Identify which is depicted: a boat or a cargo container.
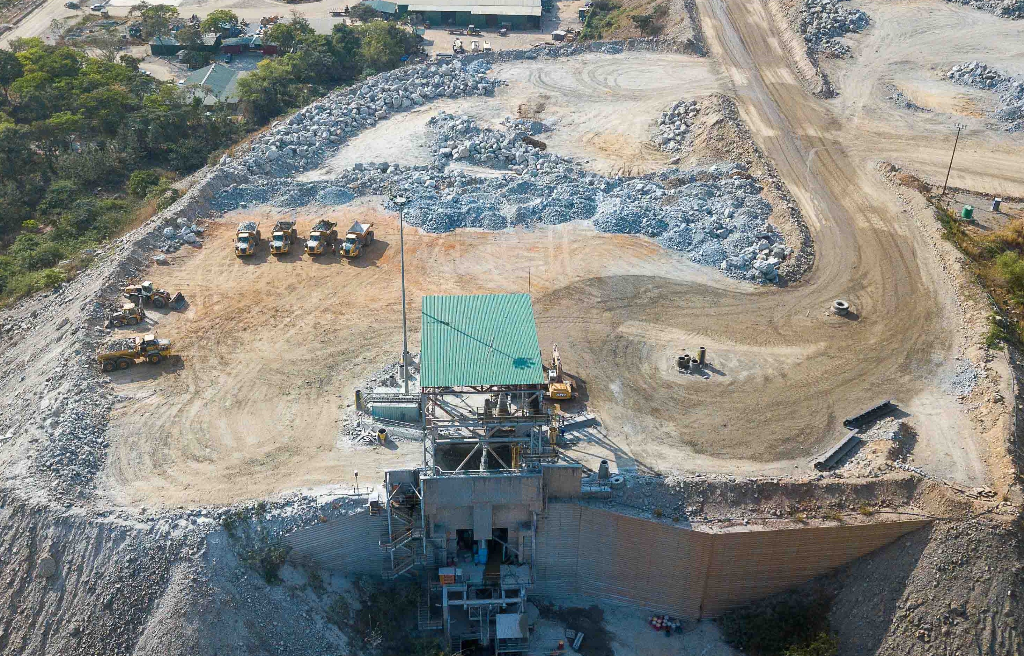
cargo container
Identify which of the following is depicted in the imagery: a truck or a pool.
truck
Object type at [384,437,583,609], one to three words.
building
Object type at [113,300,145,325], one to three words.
work vehicle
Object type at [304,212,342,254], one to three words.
truck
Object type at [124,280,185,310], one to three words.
work vehicle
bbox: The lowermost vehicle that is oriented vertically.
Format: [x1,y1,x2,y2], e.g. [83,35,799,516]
[548,336,574,399]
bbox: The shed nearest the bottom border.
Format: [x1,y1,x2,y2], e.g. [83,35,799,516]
[495,611,526,656]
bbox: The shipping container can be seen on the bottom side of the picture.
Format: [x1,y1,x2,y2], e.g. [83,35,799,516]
[370,396,419,423]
